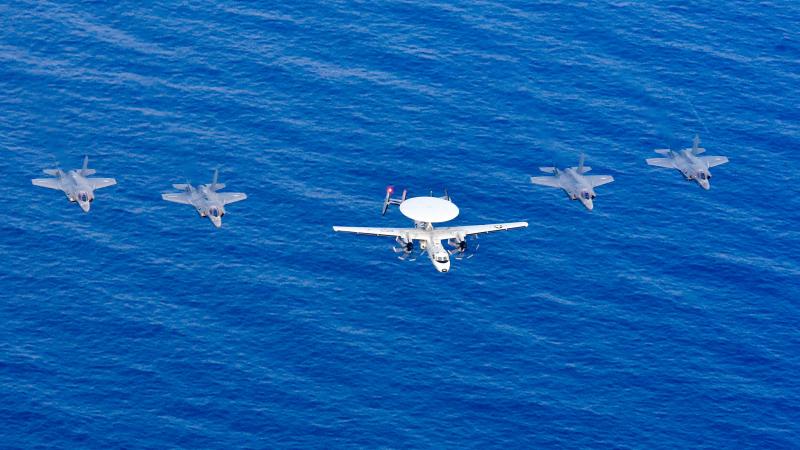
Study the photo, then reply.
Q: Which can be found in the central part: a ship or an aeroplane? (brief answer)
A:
aeroplane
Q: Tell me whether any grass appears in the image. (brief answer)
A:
No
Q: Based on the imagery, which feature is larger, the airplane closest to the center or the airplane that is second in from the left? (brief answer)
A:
the airplane closest to the center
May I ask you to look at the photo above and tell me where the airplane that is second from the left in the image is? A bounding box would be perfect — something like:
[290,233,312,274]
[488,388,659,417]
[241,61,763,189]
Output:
[163,170,248,227]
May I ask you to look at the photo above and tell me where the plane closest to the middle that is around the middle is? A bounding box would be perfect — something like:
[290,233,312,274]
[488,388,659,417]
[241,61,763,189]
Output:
[334,187,529,273]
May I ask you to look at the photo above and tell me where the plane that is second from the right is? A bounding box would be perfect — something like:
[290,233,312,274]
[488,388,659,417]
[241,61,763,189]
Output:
[532,154,615,209]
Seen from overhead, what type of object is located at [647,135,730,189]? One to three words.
airplane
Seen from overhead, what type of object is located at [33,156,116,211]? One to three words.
airplane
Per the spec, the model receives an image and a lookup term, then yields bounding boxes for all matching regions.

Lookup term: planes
[33,156,116,211]
[532,154,615,209]
[163,170,248,227]
[647,135,730,189]
[334,187,529,273]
